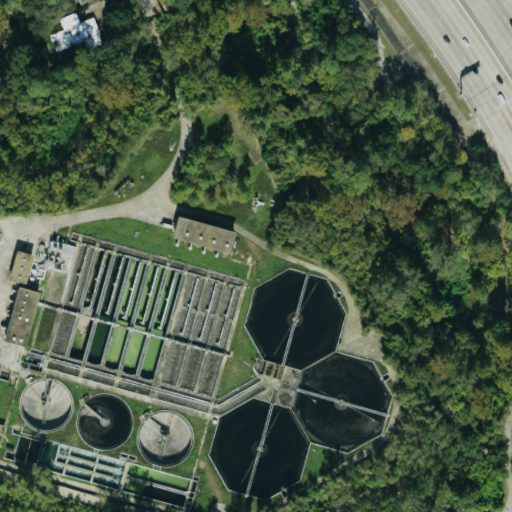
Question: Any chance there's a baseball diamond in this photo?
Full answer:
No, no baseball diamond is visible in the scene.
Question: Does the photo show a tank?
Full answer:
Yes, there is a tank in the image.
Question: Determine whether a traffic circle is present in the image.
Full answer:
No, no traffic circle is visible in the scene.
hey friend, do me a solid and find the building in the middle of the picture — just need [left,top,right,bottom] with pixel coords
[174,217,238,258]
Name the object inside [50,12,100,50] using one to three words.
house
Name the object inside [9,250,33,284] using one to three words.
building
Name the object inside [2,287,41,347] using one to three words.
building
